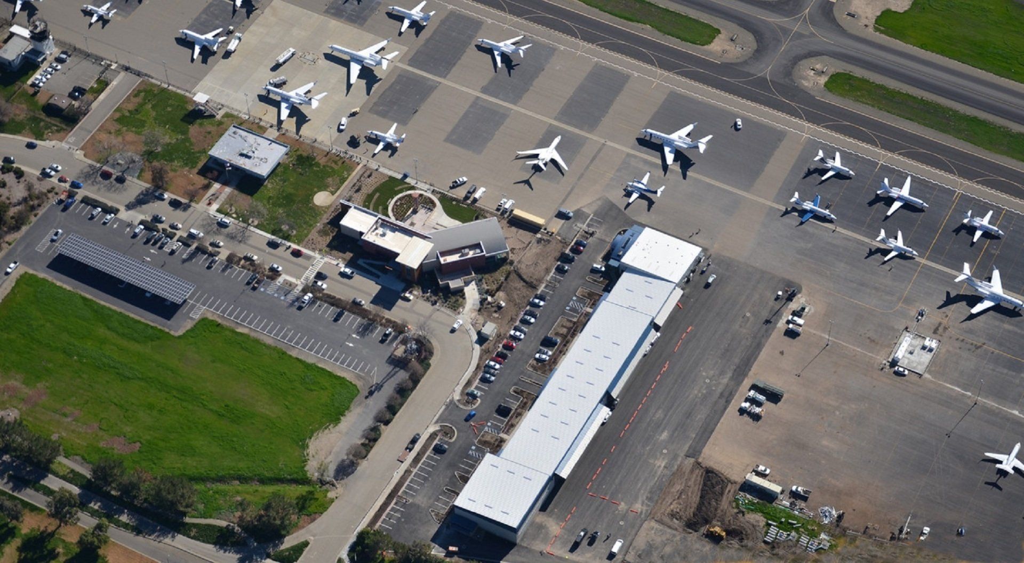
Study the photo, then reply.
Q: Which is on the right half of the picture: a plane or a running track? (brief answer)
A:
plane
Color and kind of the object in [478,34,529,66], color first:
white airplane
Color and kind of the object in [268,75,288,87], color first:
gray vehicle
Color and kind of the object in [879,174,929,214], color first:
white airplane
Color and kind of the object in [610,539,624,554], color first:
white vehicle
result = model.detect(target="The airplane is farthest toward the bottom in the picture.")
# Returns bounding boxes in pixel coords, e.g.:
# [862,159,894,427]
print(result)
[987,442,1024,474]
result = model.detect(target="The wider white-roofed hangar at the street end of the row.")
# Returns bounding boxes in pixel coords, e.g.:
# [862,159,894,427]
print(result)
[452,450,551,546]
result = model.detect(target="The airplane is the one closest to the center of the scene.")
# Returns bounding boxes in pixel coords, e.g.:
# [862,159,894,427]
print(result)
[516,137,568,171]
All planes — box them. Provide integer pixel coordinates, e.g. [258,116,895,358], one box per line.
[642,120,716,165]
[952,262,1024,314]
[235,0,246,8]
[179,27,230,57]
[875,227,918,259]
[328,34,403,85]
[790,190,837,221]
[987,442,1024,474]
[963,208,1004,241]
[83,1,117,22]
[516,137,568,171]
[388,0,439,31]
[879,174,929,214]
[478,34,529,66]
[262,78,330,120]
[367,121,405,154]
[627,170,667,203]
[16,0,41,12]
[813,148,854,179]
